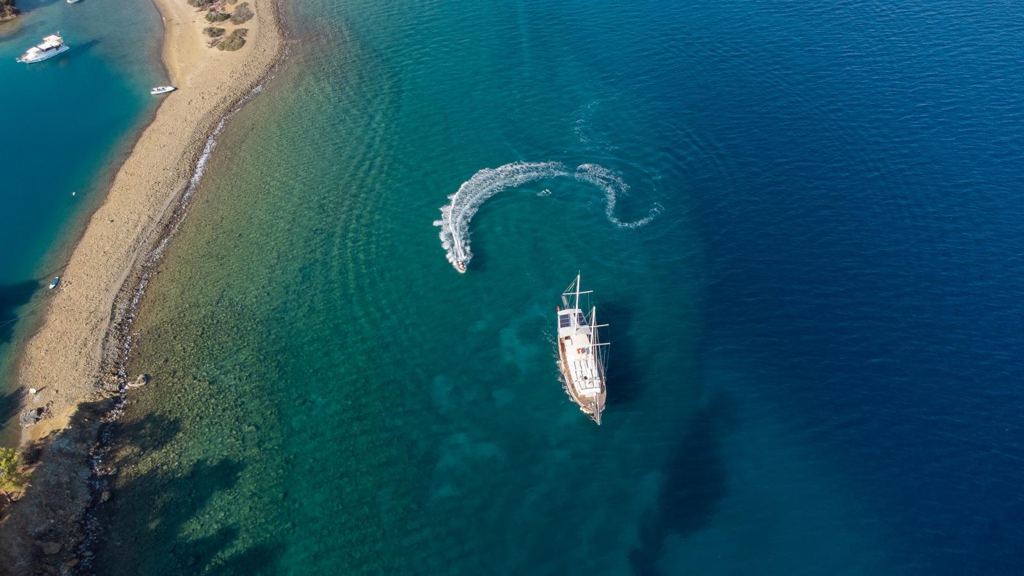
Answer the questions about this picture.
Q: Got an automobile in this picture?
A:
No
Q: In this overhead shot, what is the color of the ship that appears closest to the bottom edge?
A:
white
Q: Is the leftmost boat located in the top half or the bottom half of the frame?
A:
top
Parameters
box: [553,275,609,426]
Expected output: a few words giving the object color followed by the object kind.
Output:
white ship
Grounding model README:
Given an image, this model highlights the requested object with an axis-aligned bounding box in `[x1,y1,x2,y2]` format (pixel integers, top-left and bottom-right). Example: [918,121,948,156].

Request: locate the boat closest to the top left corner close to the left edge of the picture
[12,36,71,66]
